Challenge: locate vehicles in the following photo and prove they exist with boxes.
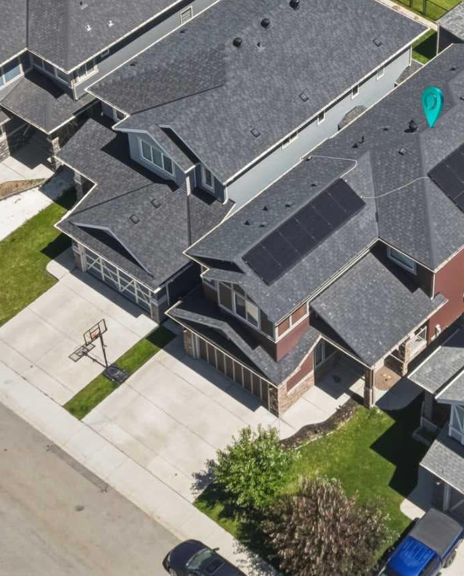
[366,509,464,576]
[167,540,245,576]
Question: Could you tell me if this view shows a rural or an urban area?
urban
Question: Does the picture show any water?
No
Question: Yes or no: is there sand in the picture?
No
